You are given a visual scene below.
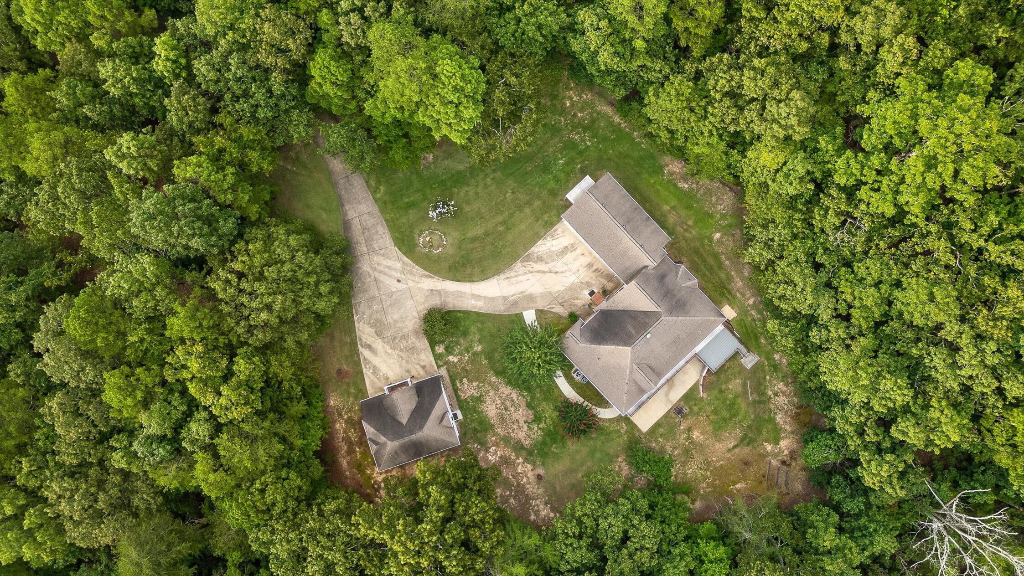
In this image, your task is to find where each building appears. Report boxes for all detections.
[360,373,461,473]
[558,172,727,415]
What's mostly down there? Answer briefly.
trees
